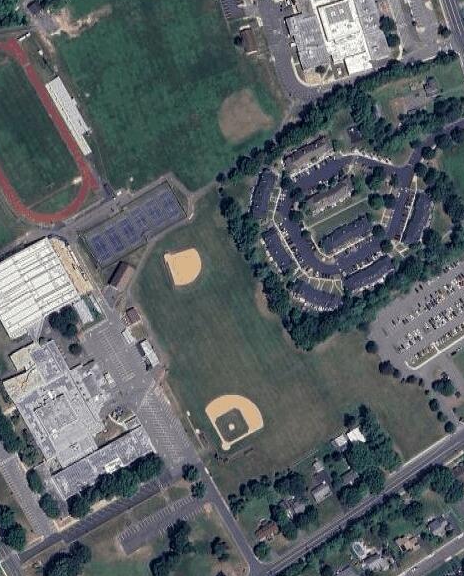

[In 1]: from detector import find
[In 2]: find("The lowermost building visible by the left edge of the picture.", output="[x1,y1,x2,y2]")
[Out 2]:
[4,341,155,499]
